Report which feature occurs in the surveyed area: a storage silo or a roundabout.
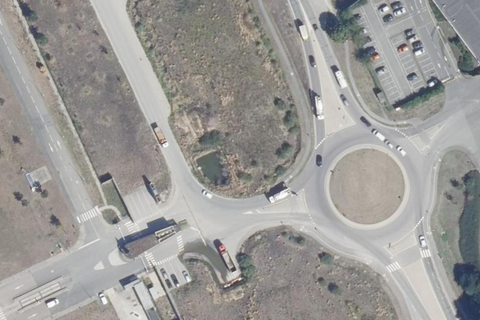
roundabout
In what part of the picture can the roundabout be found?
right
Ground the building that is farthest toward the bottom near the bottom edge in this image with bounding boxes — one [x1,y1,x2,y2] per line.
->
[134,282,160,320]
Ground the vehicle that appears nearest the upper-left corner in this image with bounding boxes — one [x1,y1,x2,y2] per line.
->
[154,125,168,146]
